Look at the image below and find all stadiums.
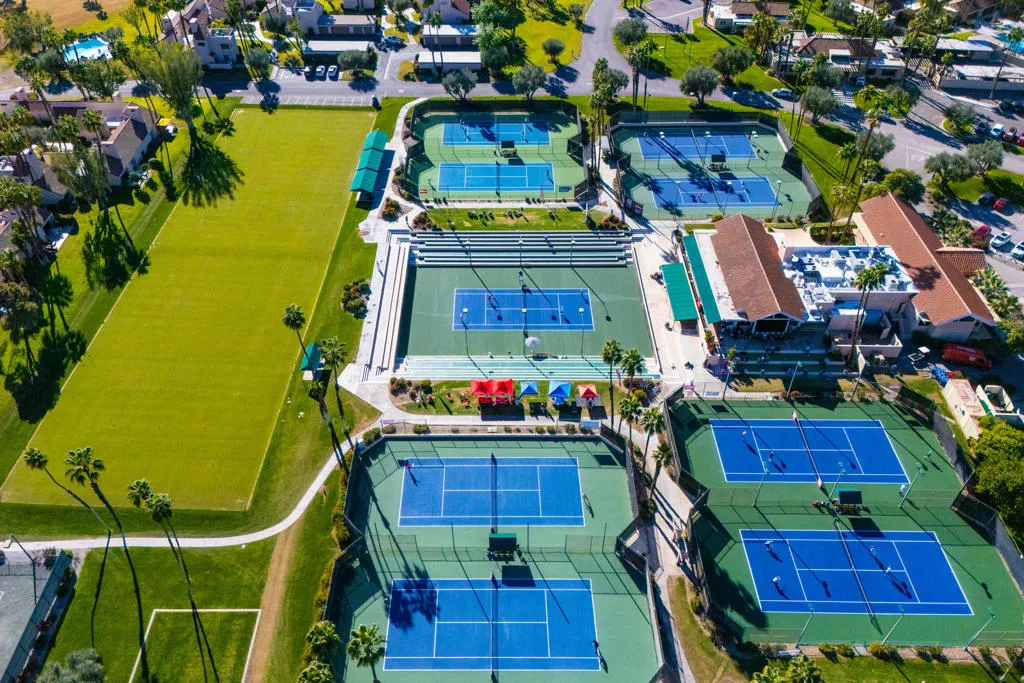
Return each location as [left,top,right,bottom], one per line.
[362,228,668,379]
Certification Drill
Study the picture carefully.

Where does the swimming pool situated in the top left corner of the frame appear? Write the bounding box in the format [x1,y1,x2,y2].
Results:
[62,37,109,60]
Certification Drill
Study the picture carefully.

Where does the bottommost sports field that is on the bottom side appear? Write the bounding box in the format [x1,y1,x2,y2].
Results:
[127,608,262,683]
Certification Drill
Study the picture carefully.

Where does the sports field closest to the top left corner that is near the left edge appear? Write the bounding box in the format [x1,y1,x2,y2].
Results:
[0,108,376,510]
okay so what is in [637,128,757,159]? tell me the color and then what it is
blue tennis court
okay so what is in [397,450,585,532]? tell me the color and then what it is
blue tennis court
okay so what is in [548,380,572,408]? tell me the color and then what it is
blue tent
